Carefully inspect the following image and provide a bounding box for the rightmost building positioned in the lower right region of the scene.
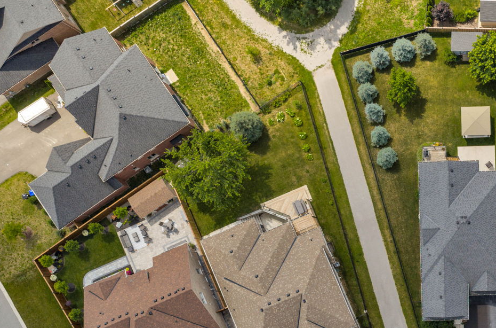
[418,160,496,322]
